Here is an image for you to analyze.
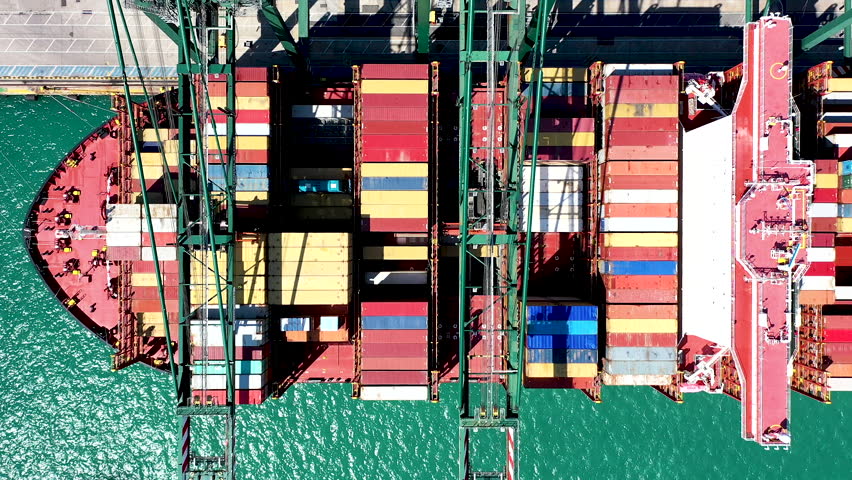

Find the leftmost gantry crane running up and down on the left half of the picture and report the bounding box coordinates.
[121,0,310,480]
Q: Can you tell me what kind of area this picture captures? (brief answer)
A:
port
